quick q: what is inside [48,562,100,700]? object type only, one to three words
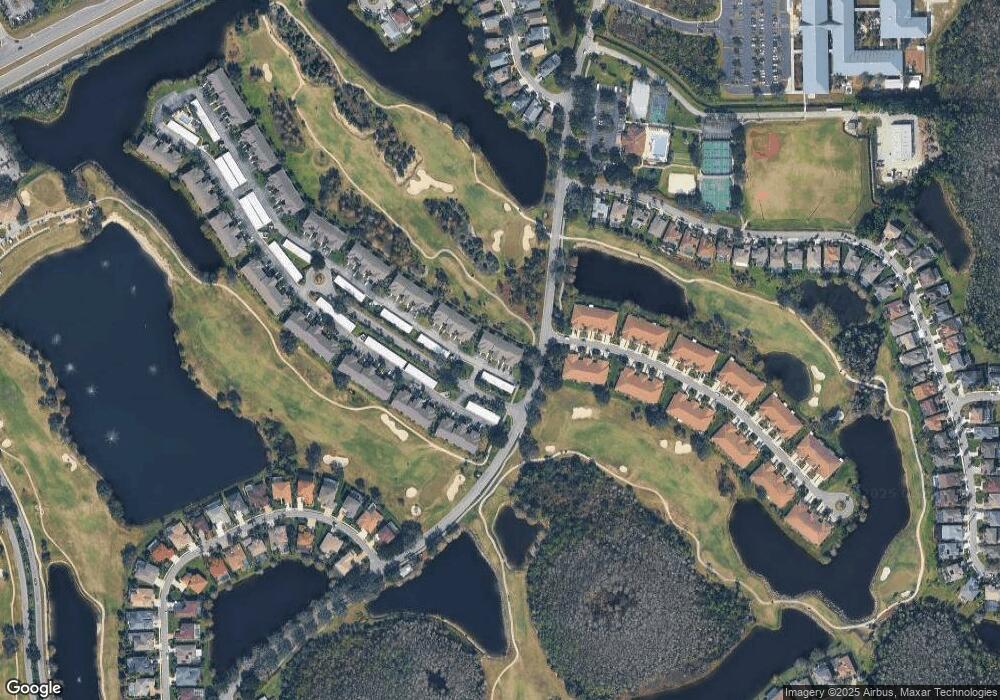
pond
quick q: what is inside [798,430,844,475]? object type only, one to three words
house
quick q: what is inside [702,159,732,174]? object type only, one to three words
tennis court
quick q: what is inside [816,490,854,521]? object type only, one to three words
roundabout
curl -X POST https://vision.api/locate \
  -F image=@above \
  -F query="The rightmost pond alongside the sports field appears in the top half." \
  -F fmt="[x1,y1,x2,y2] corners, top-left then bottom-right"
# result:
[913,184,971,270]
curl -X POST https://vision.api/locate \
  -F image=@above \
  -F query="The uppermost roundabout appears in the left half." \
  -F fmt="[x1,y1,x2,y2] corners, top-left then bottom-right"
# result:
[304,267,336,298]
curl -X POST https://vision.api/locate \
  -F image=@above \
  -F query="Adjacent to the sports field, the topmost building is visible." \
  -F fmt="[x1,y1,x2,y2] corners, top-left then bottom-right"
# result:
[795,0,929,94]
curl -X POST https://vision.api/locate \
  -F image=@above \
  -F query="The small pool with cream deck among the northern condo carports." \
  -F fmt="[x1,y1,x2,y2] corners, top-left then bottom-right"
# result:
[172,110,195,131]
